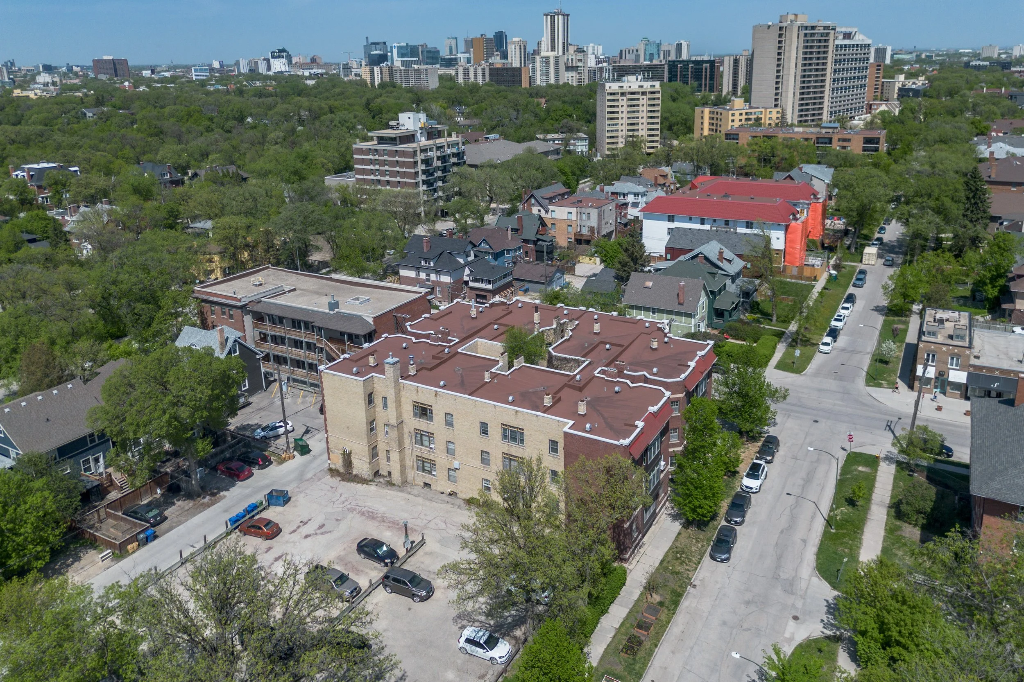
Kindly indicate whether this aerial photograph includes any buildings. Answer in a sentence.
Yes, the photo shows a building.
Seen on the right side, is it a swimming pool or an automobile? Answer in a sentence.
Visible on the right side is an automobile.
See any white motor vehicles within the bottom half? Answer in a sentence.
Yes, a white motor vehicle appears within the bottom half.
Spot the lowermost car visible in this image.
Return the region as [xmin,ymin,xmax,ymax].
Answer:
[457,624,514,664]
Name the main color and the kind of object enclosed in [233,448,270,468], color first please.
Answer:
black car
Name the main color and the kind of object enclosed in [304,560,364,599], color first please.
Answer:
gray truck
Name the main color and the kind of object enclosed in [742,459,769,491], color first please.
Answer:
white car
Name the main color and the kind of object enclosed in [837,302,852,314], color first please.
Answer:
white vehicle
